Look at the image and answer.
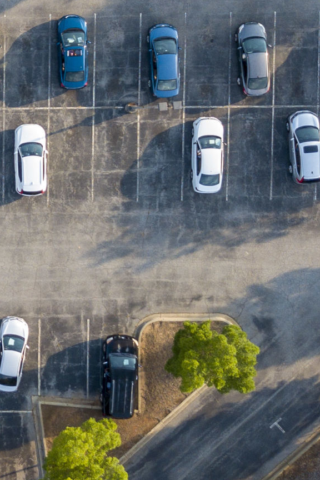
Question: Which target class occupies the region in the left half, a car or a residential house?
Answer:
car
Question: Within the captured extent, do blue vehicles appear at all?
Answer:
Yes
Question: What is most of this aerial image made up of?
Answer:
paved ground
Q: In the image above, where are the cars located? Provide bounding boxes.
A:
[13,124,51,196]
[102,333,142,420]
[189,116,230,194]
[287,110,320,184]
[235,22,275,96]
[0,316,32,393]
[54,14,93,89]
[146,23,184,98]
